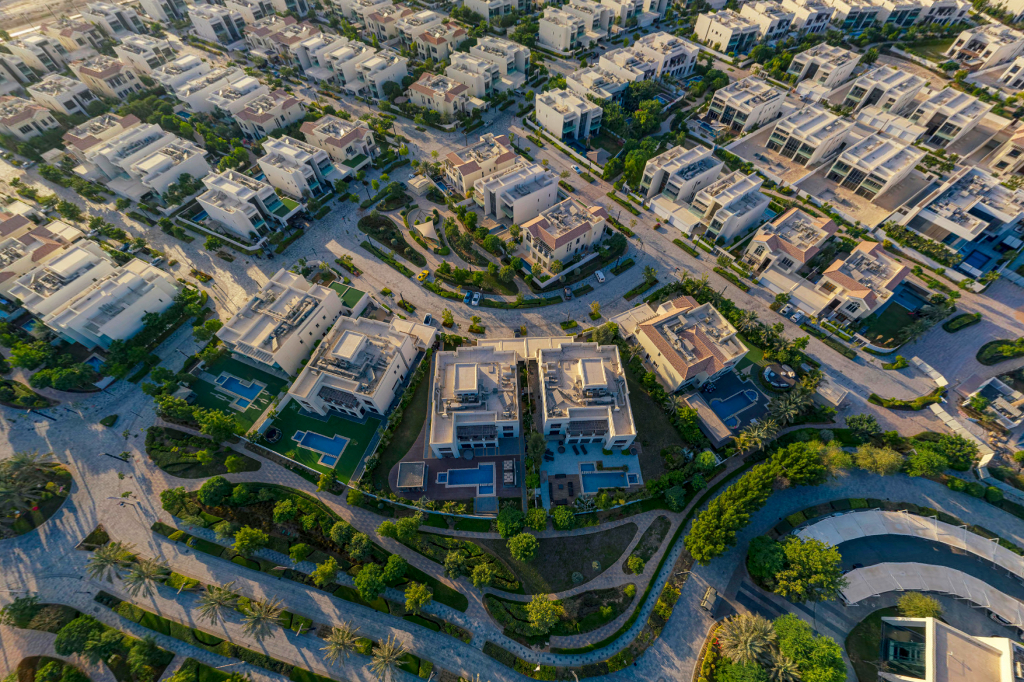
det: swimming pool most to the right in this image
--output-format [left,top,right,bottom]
[966,250,994,270]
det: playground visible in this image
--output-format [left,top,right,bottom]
[410,202,443,247]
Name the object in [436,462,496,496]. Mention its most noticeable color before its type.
blue swimming pool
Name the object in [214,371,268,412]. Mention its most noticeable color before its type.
blue swimming pool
